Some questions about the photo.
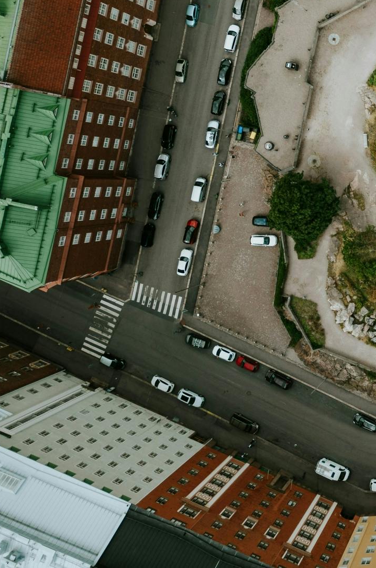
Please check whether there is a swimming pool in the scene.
No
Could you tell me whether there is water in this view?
No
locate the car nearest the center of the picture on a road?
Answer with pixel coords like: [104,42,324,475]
[175,248,192,277]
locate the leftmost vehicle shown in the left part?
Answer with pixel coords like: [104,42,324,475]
[97,353,124,370]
